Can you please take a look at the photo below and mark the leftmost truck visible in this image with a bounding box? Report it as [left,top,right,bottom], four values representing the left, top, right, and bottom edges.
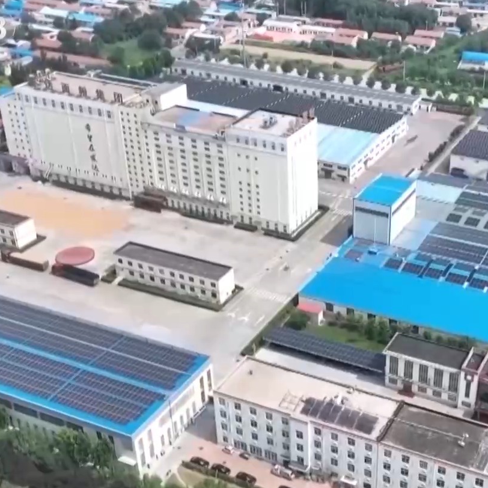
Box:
[0,250,48,273]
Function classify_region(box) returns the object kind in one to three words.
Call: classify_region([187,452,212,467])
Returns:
car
